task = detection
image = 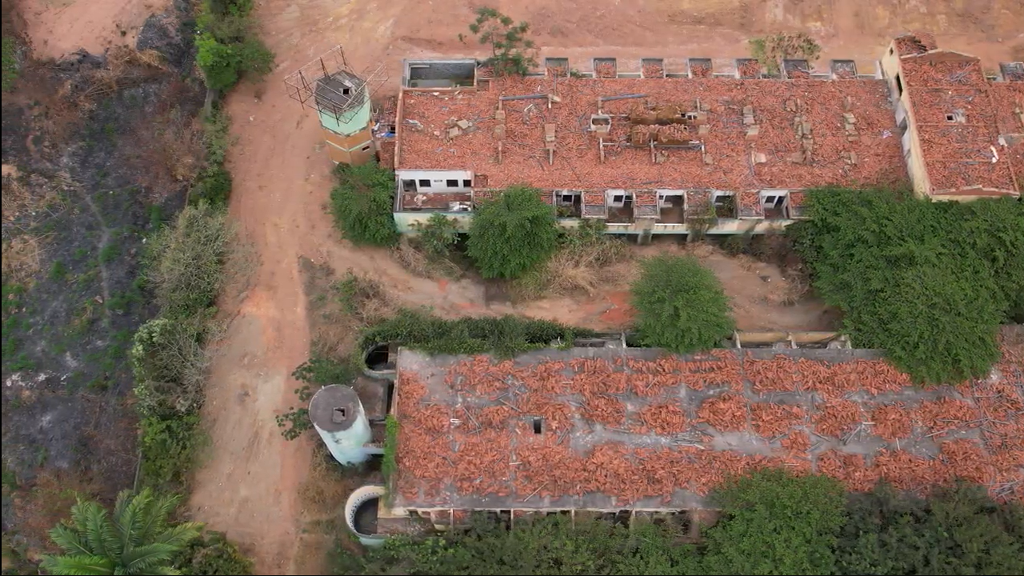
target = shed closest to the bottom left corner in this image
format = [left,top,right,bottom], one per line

[359,378,391,431]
